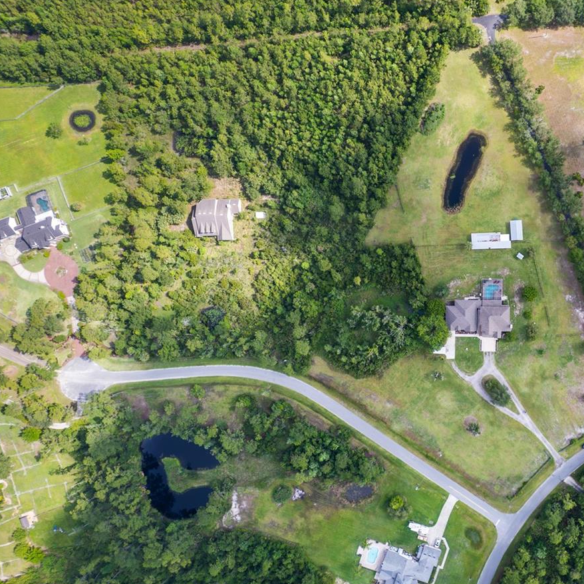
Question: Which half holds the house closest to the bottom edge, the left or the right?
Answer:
right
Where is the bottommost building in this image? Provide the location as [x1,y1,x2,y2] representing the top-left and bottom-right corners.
[377,543,442,584]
